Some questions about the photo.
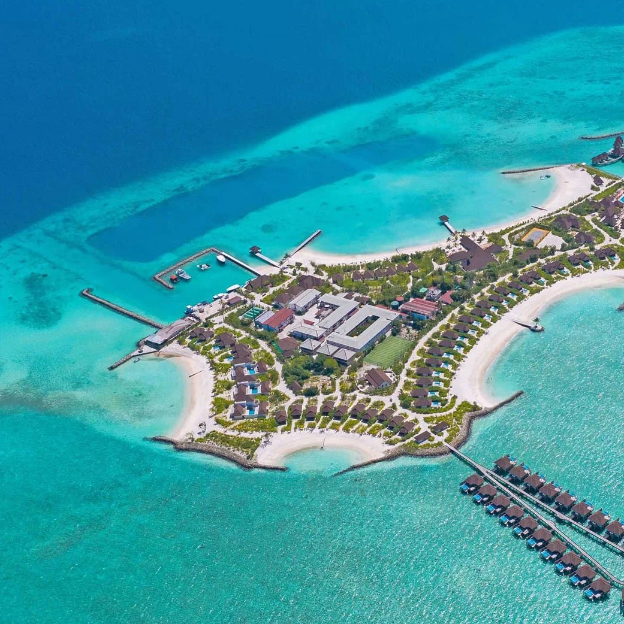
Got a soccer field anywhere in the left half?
No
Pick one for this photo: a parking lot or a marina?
marina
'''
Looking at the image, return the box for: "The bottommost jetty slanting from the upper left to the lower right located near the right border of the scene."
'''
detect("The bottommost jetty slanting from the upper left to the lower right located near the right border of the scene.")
[441,441,624,585]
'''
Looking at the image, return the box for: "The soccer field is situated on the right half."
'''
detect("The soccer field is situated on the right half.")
[366,337,412,367]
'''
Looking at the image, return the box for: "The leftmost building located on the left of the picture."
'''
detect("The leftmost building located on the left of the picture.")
[145,318,192,349]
